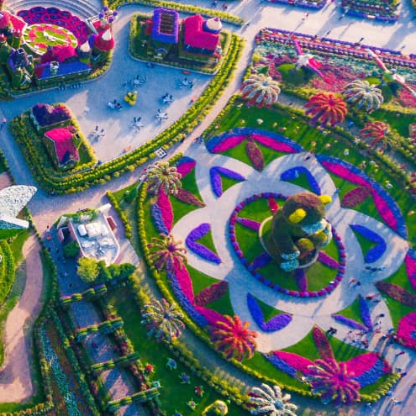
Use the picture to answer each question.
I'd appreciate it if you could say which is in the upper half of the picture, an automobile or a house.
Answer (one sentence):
The one visible in the upper half of the picture is a house.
